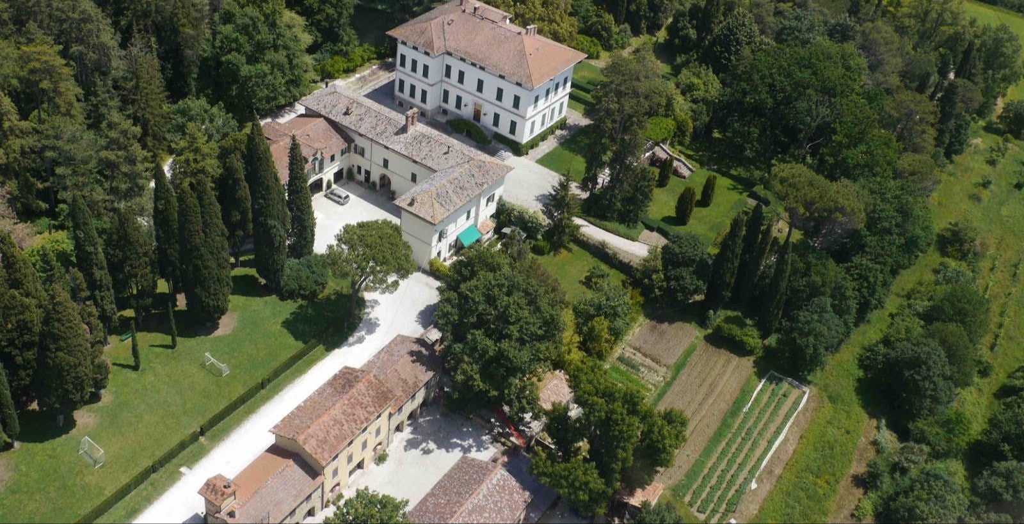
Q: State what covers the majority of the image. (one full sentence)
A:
The largest share of the image is taken up by trees.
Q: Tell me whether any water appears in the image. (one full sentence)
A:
No, the picture contains no water.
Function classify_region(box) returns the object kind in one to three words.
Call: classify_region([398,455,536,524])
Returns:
barn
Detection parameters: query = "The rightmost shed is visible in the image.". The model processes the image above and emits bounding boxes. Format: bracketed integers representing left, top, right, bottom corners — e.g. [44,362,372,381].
[623,478,665,514]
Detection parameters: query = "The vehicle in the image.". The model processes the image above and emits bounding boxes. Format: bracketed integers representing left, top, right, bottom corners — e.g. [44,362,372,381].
[323,189,353,205]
